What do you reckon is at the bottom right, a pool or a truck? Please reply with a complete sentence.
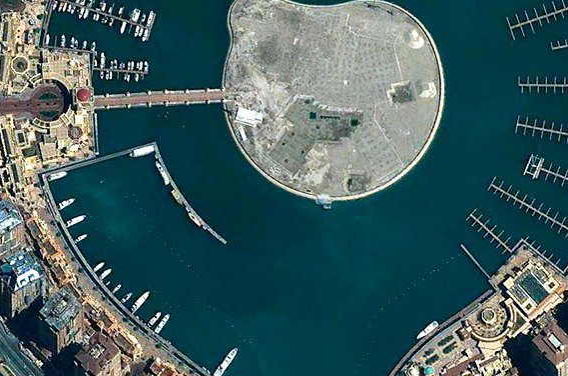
There is a pool at the bottom right.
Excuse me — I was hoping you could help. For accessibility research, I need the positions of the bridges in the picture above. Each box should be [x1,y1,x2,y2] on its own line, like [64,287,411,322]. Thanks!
[91,86,228,109]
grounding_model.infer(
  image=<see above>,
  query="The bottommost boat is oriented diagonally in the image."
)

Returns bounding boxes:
[214,351,234,376]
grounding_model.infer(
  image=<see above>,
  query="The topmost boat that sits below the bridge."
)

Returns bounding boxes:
[132,142,157,156]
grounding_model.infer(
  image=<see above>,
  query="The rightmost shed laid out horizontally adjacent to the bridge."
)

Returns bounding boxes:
[234,108,263,126]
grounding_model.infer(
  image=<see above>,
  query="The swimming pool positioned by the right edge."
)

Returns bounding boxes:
[520,275,549,305]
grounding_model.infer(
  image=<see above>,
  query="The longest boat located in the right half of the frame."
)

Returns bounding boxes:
[420,321,440,337]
